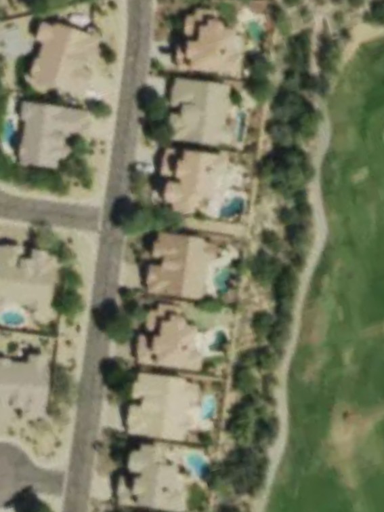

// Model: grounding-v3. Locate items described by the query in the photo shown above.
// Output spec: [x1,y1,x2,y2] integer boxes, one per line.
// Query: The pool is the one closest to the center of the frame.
[214,268,232,296]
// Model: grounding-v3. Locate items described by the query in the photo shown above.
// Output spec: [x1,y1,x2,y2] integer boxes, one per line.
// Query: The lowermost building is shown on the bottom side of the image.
[115,444,185,511]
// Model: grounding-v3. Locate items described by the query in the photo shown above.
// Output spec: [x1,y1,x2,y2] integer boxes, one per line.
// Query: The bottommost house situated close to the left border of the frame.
[0,353,48,418]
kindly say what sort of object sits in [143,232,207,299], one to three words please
house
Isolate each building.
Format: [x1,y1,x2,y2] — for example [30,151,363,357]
[128,375,199,442]
[167,77,236,145]
[165,148,225,211]
[143,232,207,299]
[175,16,245,76]
[115,444,185,511]
[0,353,48,418]
[0,247,55,316]
[17,98,91,165]
[132,310,197,370]
[24,17,100,92]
